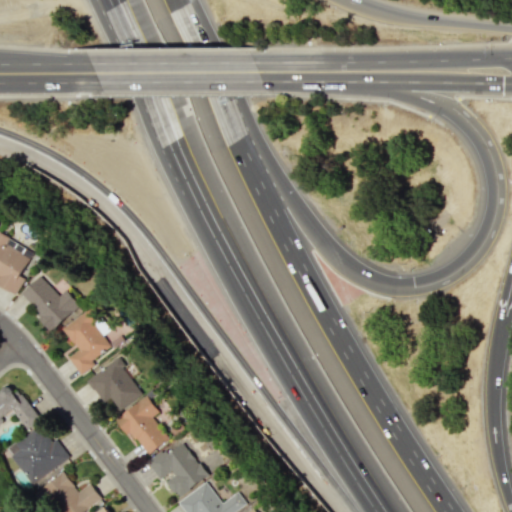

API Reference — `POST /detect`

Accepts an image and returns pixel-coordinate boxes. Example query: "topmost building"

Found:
[0,232,34,298]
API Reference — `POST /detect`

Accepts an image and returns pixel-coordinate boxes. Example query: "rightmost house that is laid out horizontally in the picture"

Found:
[180,482,248,512]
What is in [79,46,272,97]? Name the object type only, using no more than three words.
overpass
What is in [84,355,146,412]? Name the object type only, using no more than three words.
house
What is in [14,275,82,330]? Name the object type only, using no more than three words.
house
